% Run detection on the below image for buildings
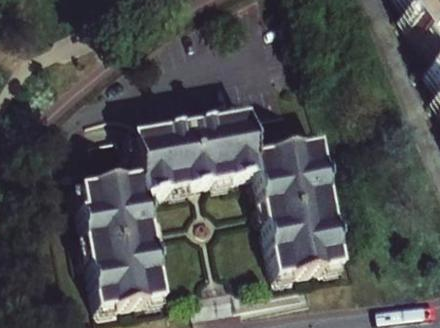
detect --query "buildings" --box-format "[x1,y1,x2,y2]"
[394,0,440,122]
[74,108,350,326]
